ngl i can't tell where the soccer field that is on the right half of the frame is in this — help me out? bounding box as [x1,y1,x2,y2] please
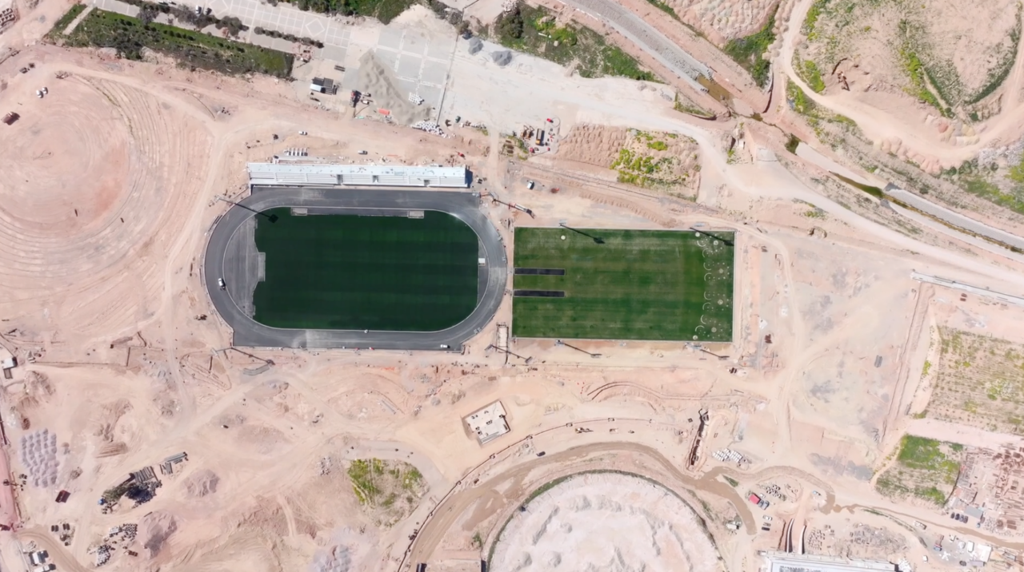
[511,226,735,343]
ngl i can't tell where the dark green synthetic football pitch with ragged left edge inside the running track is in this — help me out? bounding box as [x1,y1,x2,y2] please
[253,207,478,331]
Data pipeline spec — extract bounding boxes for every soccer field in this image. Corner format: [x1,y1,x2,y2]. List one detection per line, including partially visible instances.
[253,207,478,331]
[511,226,735,343]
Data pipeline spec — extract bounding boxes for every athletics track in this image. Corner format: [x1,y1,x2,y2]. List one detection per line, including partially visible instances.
[205,187,507,351]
